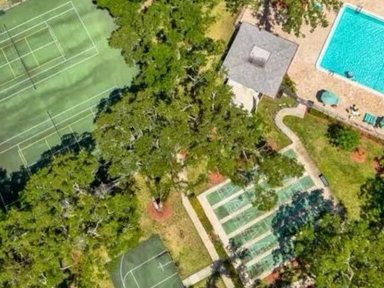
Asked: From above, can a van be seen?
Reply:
No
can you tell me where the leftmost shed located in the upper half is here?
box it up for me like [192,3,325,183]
[221,21,300,97]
